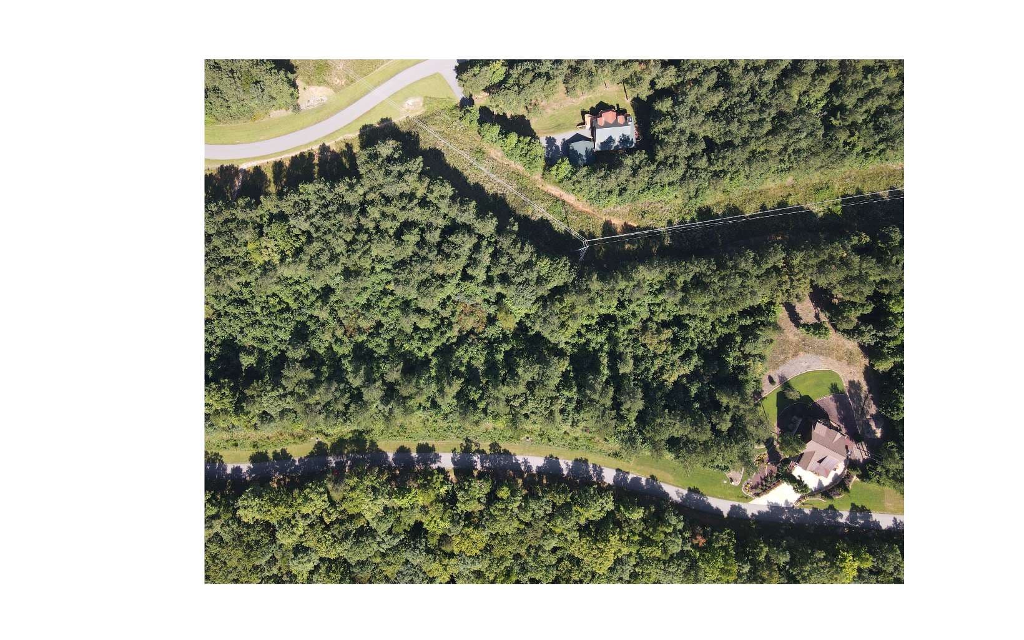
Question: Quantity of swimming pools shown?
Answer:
none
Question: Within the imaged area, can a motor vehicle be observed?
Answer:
No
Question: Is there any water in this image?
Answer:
No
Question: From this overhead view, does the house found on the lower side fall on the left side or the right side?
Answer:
right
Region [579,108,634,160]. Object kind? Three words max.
house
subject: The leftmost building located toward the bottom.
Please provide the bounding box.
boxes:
[773,412,853,481]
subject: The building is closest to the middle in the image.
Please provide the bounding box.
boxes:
[570,138,594,168]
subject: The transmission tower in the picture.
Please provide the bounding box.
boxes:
[572,240,590,268]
